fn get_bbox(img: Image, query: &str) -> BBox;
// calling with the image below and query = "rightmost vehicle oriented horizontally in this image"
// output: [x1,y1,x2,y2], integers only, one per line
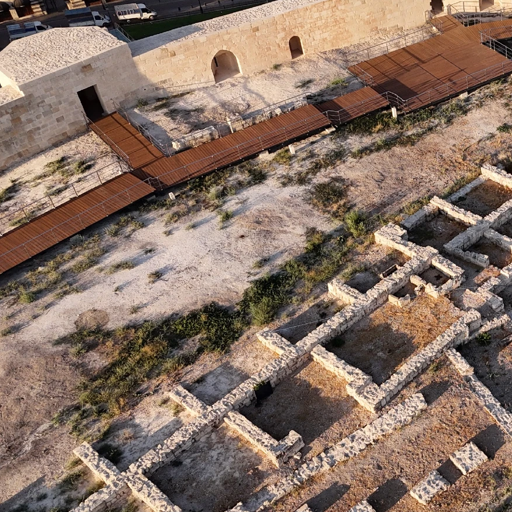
[110,0,156,21]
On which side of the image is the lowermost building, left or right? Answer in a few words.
left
